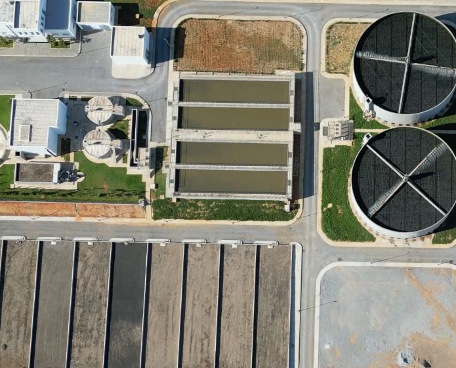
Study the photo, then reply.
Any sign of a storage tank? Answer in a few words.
Yes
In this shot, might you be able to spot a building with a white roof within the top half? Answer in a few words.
Yes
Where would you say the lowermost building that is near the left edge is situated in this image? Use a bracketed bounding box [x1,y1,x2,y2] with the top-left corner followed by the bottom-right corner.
[9,98,66,153]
